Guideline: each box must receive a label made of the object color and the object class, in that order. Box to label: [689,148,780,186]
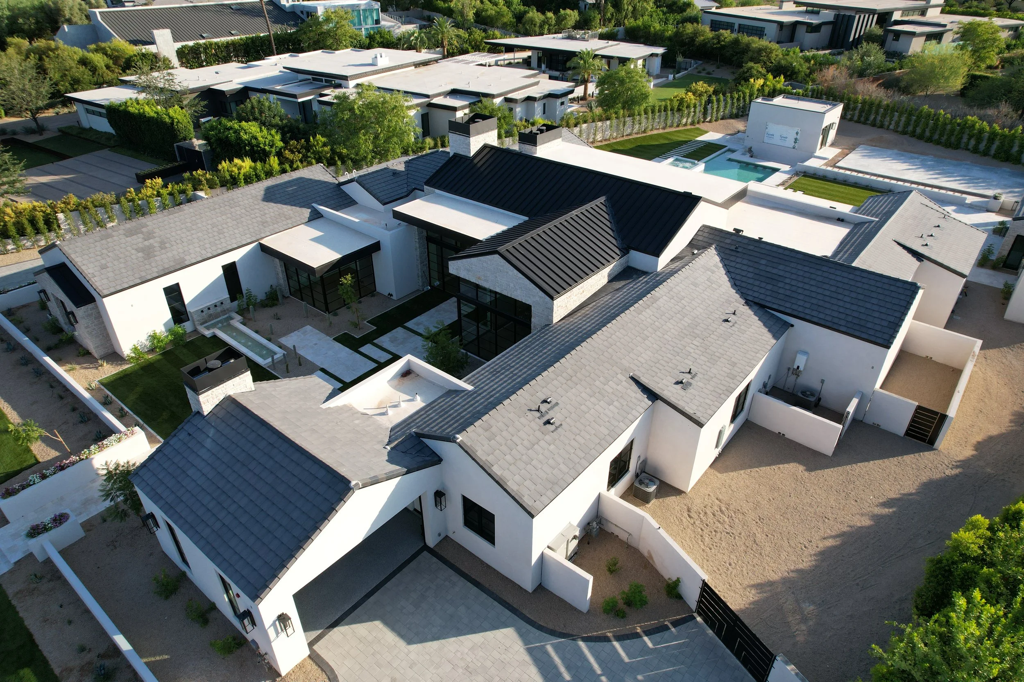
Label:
blue swimming pool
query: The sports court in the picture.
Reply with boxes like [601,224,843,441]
[835,145,1024,202]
